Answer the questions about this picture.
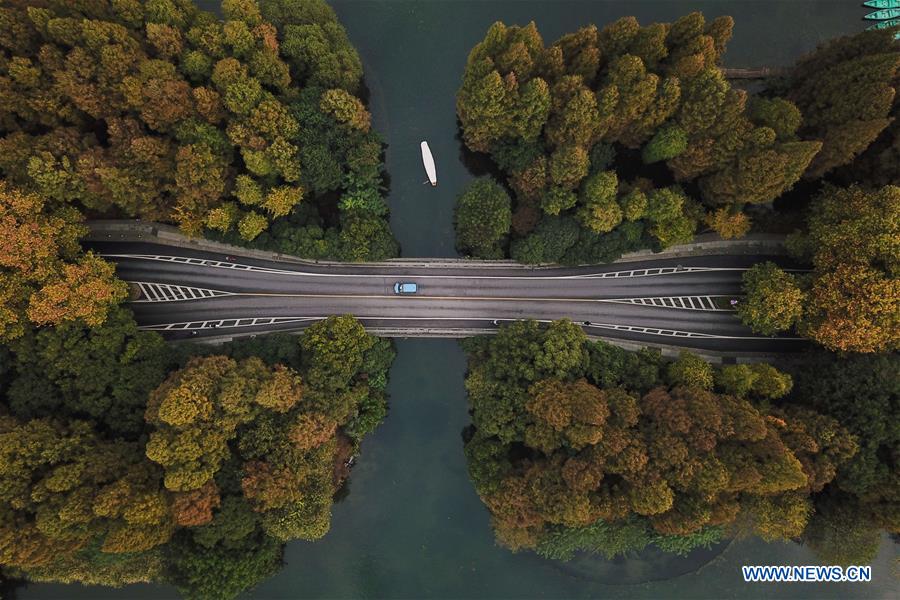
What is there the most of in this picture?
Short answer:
trees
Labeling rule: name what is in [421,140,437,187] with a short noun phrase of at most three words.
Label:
boat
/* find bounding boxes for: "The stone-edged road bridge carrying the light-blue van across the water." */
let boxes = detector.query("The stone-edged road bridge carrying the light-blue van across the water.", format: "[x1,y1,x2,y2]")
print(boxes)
[383,257,520,337]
